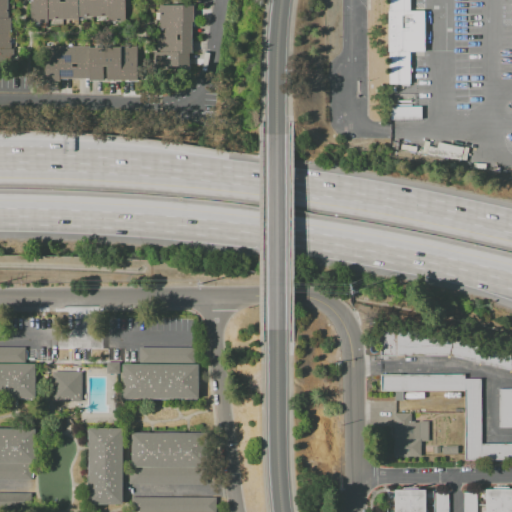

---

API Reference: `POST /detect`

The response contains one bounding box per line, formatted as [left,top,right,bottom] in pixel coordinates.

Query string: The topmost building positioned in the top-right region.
[388,0,426,54]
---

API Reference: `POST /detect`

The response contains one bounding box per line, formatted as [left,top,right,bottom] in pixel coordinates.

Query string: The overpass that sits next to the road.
[263,122,294,336]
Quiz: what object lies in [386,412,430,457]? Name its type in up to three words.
house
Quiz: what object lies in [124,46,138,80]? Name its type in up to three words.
building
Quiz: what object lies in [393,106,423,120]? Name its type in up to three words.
shed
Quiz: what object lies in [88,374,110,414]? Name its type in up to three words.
swimming pool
